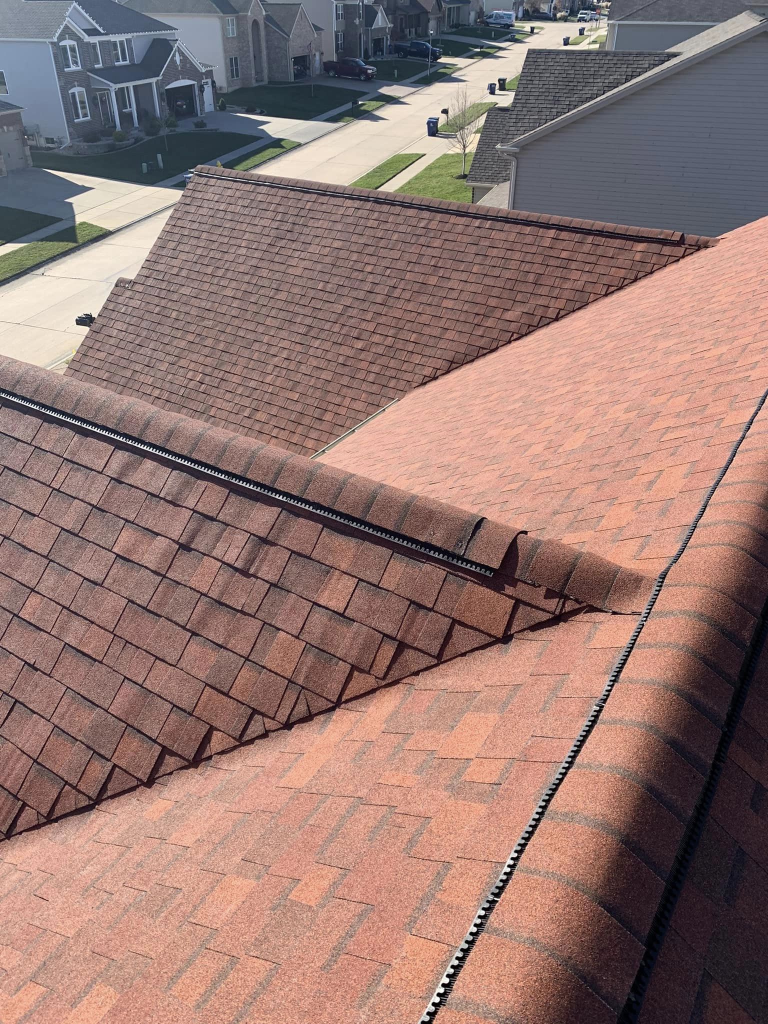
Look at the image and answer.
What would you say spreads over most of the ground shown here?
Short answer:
buildings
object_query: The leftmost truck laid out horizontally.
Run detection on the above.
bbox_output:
[324,55,377,77]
